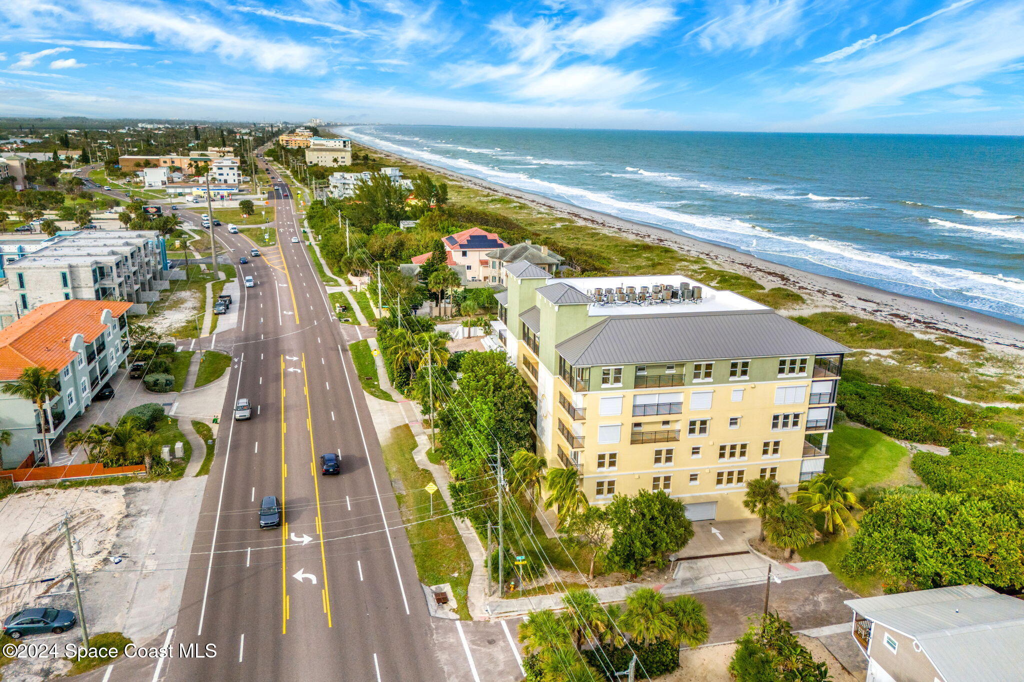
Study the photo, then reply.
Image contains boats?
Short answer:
No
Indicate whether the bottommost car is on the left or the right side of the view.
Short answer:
left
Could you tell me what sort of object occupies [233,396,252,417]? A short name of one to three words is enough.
car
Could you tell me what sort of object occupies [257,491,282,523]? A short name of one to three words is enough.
car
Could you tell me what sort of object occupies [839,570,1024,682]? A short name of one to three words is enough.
house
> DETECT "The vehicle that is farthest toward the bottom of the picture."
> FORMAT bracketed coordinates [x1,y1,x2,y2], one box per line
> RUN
[1,607,74,641]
